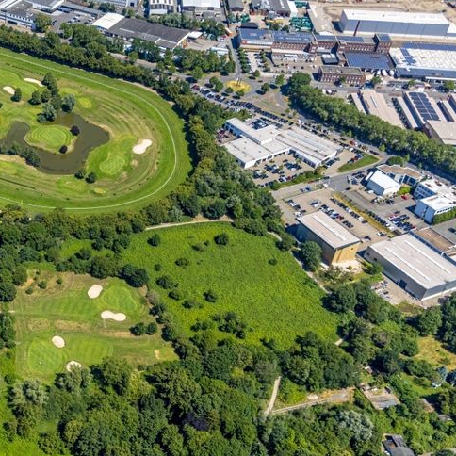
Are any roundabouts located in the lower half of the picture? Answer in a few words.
No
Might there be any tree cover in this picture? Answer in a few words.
Yes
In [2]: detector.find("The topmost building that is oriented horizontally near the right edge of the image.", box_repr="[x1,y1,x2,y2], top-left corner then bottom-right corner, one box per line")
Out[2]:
[339,9,450,39]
